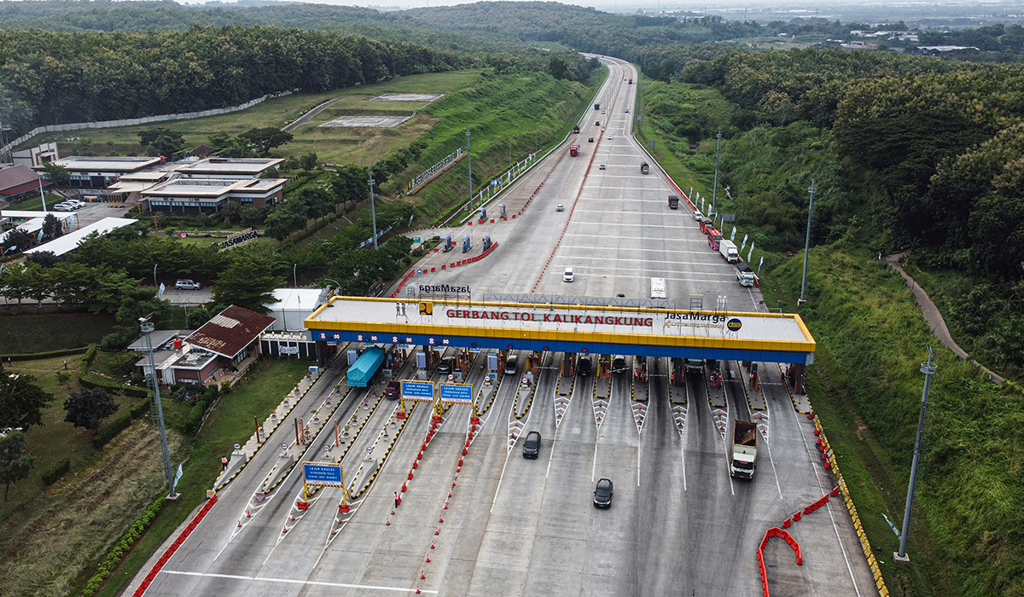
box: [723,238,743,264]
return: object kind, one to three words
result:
vehicle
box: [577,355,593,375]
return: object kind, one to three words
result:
car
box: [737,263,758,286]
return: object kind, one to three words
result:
truck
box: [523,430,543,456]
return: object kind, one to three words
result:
car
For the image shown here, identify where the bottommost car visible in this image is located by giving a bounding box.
[595,476,616,507]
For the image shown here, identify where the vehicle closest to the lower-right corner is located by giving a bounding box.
[725,425,757,478]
